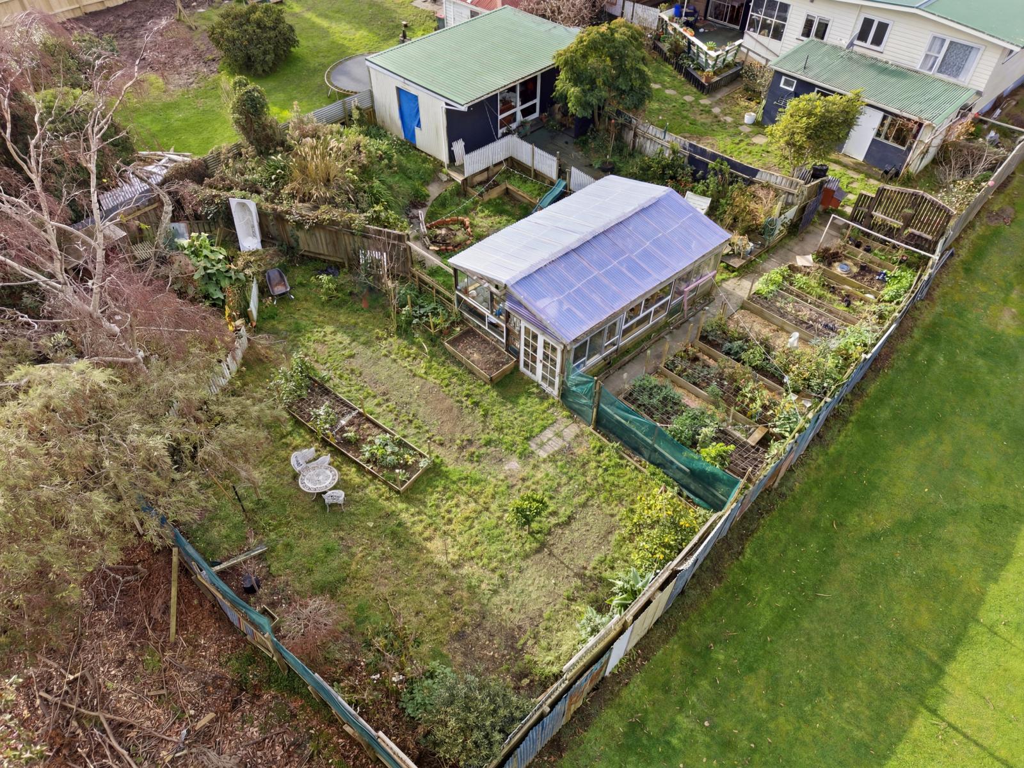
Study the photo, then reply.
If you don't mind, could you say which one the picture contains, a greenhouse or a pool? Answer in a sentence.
I can see a greenhouse in this picture.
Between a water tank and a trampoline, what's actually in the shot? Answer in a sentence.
Visible in the photo is a trampoline.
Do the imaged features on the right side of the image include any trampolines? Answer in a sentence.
No, there's no trampoline to be seen on the right side of the image.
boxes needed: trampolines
[323,59,372,108]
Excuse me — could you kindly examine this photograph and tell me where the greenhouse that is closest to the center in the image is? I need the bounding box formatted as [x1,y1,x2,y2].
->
[443,175,727,396]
